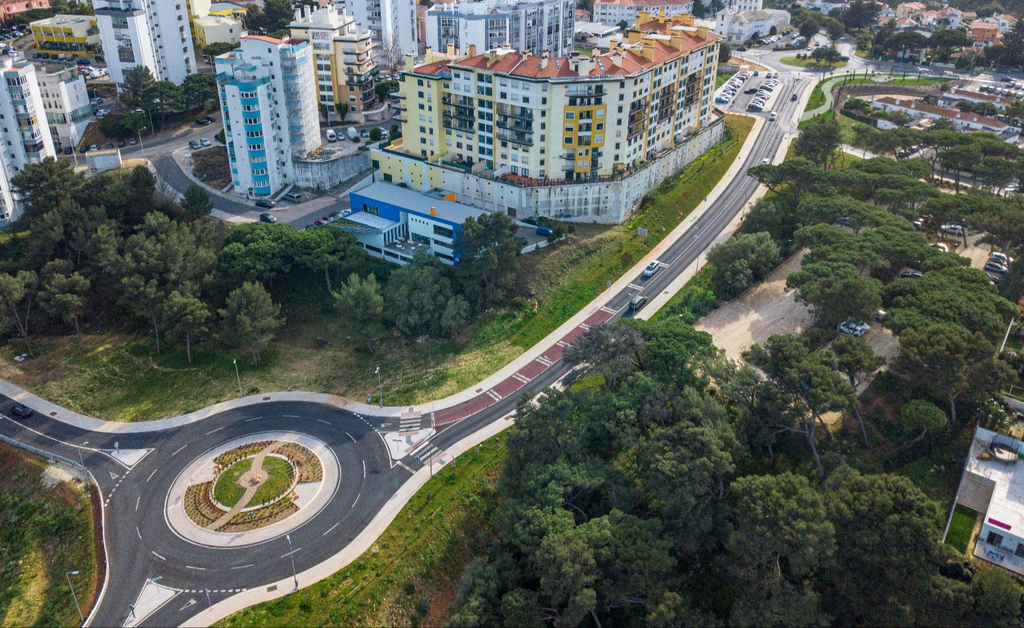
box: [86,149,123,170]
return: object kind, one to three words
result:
building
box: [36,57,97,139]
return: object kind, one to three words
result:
building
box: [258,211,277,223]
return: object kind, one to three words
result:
vehicle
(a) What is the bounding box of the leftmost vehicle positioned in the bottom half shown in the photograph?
[9,405,34,420]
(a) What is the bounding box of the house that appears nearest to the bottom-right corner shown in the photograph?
[952,440,1024,574]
